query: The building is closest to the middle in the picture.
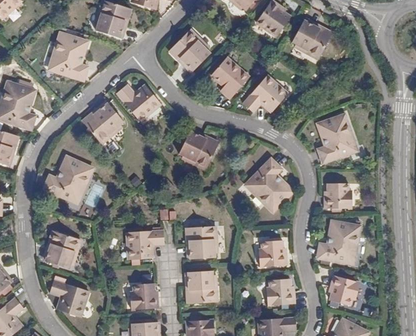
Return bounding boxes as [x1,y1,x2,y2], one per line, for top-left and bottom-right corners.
[184,134,220,170]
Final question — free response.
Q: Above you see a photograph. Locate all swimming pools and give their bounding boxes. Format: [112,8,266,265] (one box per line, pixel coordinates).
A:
[83,181,107,210]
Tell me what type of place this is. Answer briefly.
residential area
